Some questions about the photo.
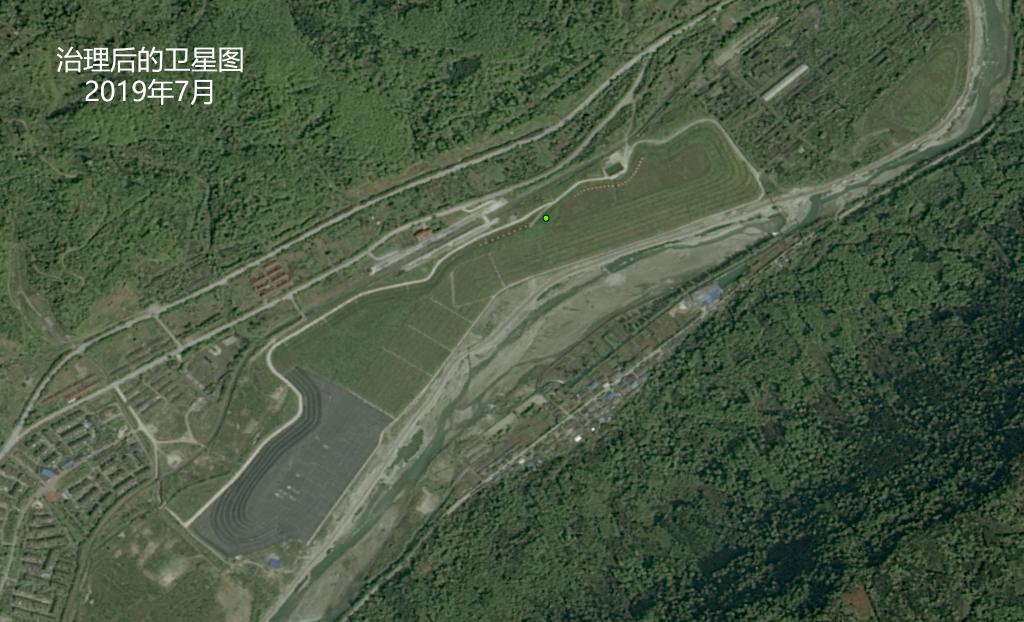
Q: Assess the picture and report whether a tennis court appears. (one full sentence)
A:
No, there's no tennis court here.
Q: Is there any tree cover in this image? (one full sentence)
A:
Yes, there's tree cover in this view.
